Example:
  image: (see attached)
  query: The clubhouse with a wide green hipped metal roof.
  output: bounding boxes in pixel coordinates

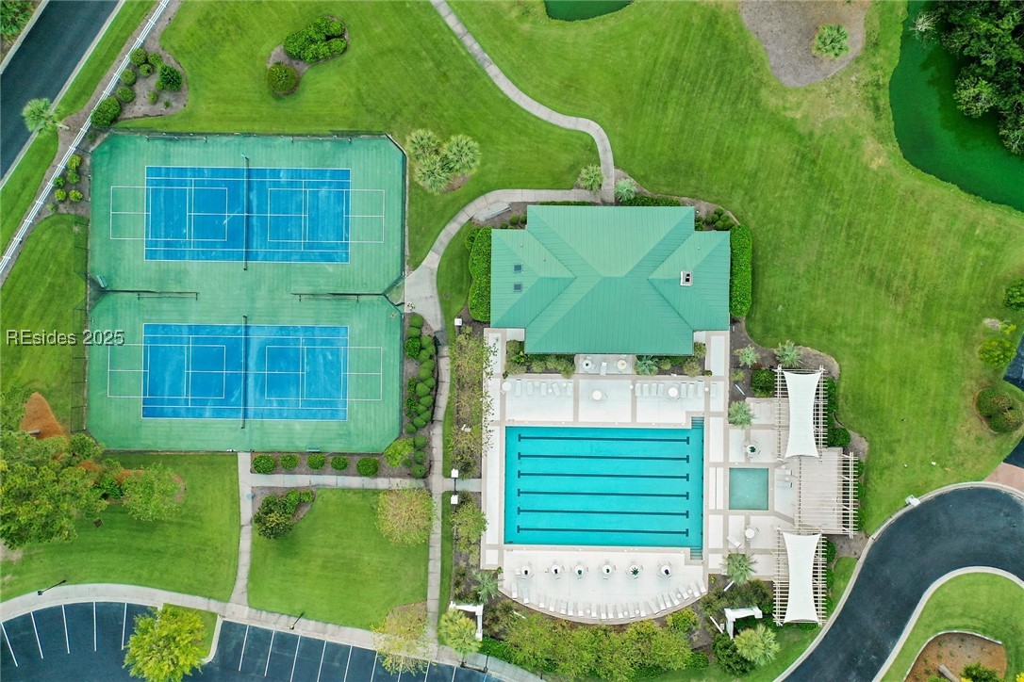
[490,204,731,356]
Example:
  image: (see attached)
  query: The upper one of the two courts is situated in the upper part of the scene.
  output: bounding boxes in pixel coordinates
[88,135,404,293]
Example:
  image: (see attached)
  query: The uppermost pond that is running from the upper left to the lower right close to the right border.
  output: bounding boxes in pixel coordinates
[889,0,1024,212]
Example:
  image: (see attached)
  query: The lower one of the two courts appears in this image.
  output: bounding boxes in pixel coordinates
[87,291,399,453]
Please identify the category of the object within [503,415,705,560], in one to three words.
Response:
swimming pool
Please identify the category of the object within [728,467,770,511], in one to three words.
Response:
swimming pool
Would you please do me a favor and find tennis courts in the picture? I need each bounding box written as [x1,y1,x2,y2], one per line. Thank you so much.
[88,135,404,293]
[87,291,399,453]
